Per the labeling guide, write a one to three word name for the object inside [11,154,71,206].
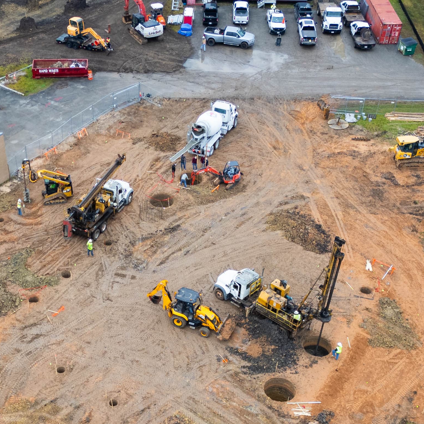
work vehicle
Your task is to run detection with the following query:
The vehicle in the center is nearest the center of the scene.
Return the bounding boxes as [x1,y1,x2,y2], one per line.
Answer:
[189,159,253,192]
